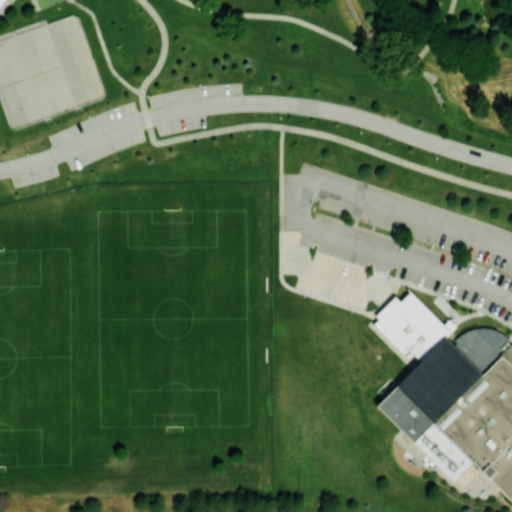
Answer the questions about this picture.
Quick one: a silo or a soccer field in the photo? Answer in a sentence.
This aerial view contains a soccer field.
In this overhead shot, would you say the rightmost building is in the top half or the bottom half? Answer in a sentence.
Seen from above, the rightmost building lies in the bottom half of the view.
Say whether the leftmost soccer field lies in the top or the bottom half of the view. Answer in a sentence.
It is in the bottom half that the leftmost soccer field appears.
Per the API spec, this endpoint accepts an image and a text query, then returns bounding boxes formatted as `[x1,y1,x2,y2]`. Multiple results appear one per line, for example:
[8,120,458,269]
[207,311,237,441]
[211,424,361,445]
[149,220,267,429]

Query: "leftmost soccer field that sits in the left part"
[0,246,75,469]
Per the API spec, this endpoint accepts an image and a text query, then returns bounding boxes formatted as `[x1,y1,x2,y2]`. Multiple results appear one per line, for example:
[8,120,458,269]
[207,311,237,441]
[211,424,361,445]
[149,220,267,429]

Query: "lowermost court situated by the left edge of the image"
[0,15,105,128]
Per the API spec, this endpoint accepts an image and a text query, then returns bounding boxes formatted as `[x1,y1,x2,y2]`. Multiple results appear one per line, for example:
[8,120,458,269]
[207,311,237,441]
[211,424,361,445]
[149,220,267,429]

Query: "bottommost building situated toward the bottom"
[374,290,512,497]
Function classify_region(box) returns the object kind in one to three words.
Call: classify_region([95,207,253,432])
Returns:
soccer field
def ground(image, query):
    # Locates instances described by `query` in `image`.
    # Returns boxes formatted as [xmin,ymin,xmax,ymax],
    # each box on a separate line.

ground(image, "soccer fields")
[0,246,75,469]
[95,207,253,432]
